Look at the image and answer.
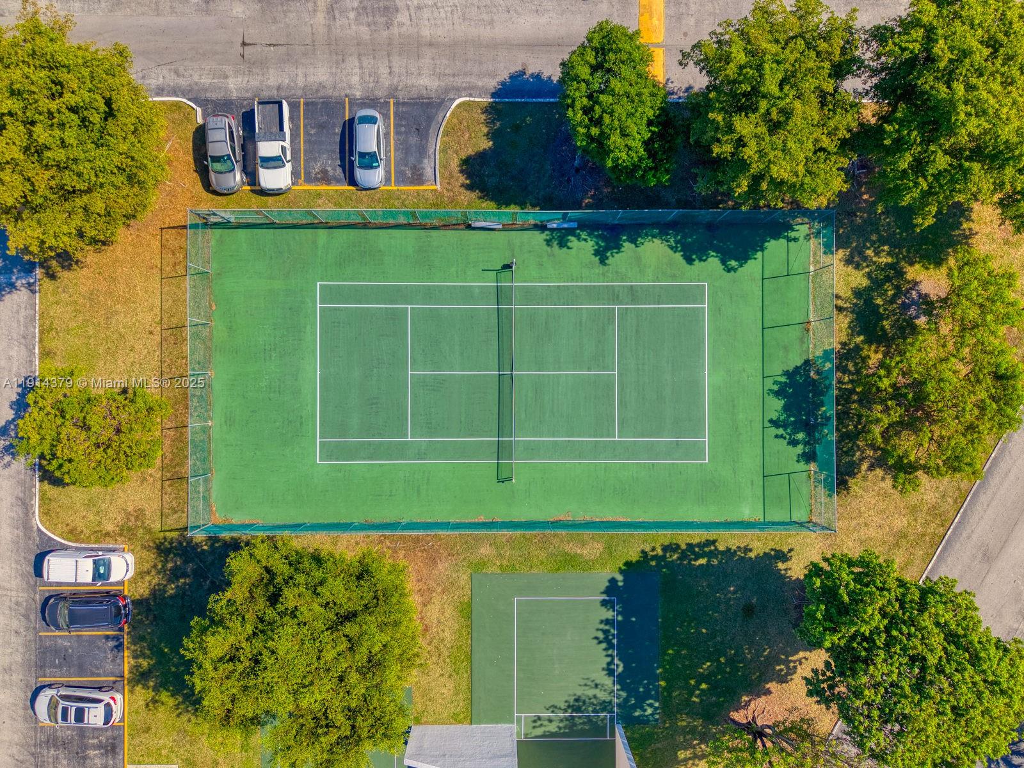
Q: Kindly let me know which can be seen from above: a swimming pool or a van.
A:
van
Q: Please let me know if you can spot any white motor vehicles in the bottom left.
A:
Yes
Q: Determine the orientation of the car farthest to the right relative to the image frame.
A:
up and down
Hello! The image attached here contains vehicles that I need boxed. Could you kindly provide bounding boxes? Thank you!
[205,115,247,193]
[349,110,386,190]
[47,592,131,635]
[39,549,137,589]
[252,99,294,195]
[36,683,123,728]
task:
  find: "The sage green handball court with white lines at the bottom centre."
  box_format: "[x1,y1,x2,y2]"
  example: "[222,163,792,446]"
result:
[472,573,659,768]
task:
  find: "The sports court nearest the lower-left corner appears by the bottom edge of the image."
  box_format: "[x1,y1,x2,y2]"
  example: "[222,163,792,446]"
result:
[260,688,412,768]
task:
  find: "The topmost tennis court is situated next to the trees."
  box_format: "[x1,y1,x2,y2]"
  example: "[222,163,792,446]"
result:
[212,225,811,522]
